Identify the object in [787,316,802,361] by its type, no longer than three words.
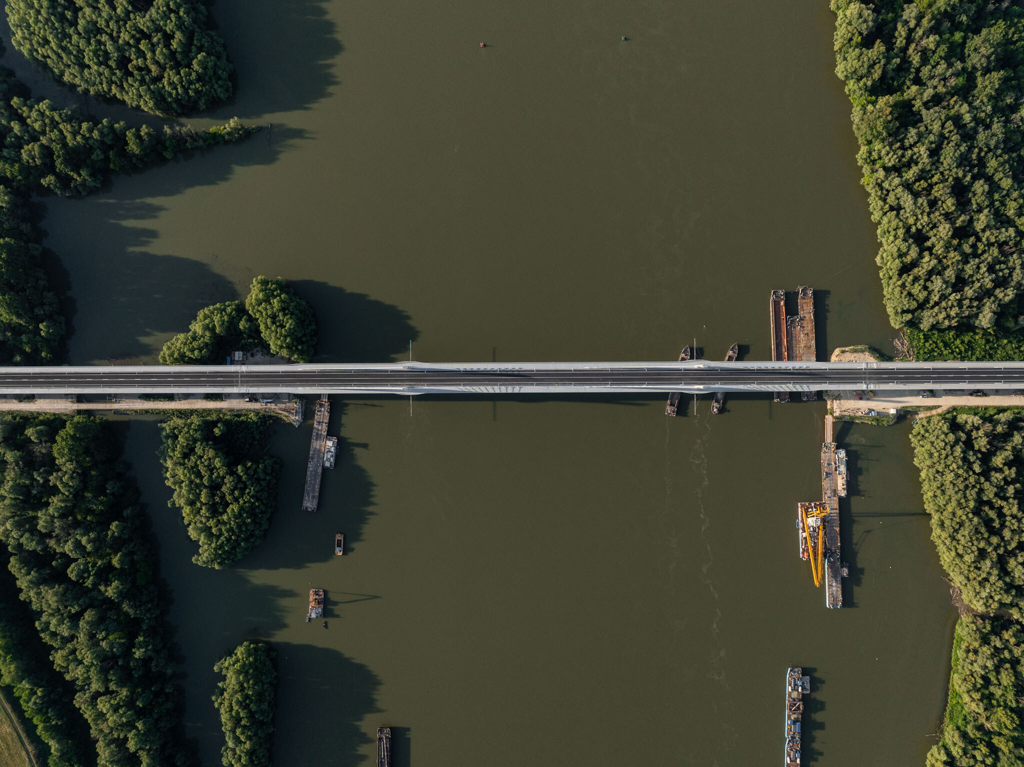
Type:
ship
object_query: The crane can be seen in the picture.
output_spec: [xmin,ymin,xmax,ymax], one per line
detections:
[802,506,829,587]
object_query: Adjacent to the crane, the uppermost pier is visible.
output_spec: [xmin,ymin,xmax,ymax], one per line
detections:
[820,443,841,554]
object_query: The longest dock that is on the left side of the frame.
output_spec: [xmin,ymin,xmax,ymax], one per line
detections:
[303,399,330,512]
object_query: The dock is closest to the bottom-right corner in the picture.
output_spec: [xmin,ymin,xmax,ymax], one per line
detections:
[824,555,842,608]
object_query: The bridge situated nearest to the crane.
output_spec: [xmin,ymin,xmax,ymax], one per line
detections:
[0,360,1024,396]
